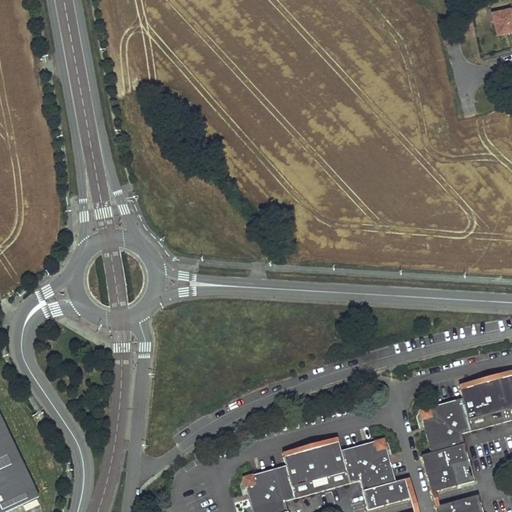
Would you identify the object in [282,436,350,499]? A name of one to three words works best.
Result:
building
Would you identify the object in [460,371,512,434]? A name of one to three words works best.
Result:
building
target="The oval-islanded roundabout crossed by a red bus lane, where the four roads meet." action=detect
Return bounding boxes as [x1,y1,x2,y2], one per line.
[38,202,206,343]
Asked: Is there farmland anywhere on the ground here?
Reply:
Yes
